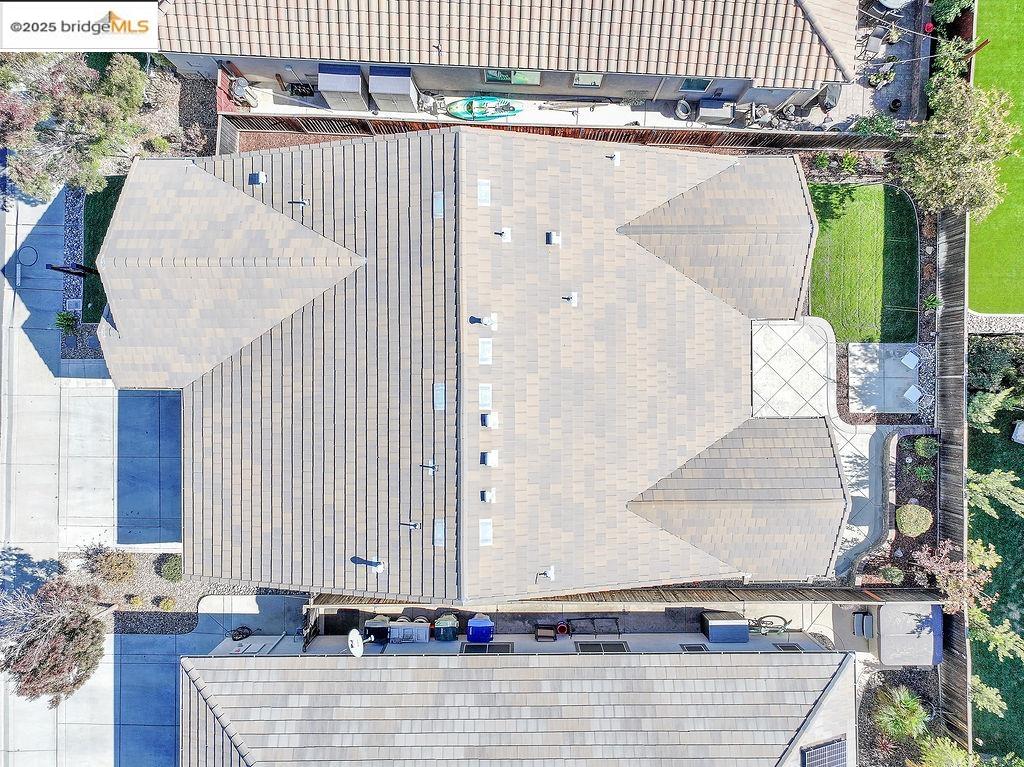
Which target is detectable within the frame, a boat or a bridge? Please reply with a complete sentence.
Of the two, only a boat appears.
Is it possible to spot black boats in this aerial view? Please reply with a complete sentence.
No, this view has no black boat in it.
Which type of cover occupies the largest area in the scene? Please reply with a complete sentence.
What you mostly see from above here is buildings.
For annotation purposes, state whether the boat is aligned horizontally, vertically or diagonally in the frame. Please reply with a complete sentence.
The boat has been laid out horizontally relative to the frame.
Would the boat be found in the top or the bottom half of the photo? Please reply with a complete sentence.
The boat sits in the top half of the picture.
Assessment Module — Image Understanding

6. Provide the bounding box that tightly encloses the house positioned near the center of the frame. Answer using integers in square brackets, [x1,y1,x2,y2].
[96,125,850,606]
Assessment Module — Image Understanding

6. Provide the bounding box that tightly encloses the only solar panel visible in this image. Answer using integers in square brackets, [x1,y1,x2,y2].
[808,732,844,767]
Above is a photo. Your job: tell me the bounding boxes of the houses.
[96,125,850,606]
[177,632,858,767]
[121,0,862,118]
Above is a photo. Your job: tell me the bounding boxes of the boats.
[448,94,524,120]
